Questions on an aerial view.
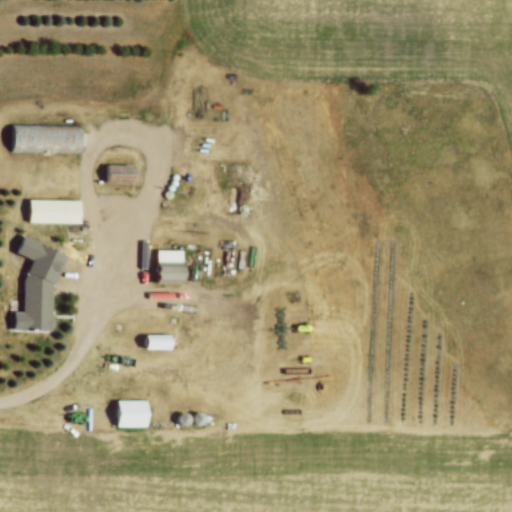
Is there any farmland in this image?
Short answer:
Yes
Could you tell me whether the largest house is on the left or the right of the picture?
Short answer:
left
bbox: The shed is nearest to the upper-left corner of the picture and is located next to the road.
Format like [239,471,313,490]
[14,126,86,154]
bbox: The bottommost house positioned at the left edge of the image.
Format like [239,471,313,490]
[10,238,70,333]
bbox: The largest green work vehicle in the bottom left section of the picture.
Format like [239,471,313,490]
[66,407,94,432]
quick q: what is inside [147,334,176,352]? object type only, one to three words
barn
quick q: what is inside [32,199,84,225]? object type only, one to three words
shed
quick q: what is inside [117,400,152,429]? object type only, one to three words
barn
